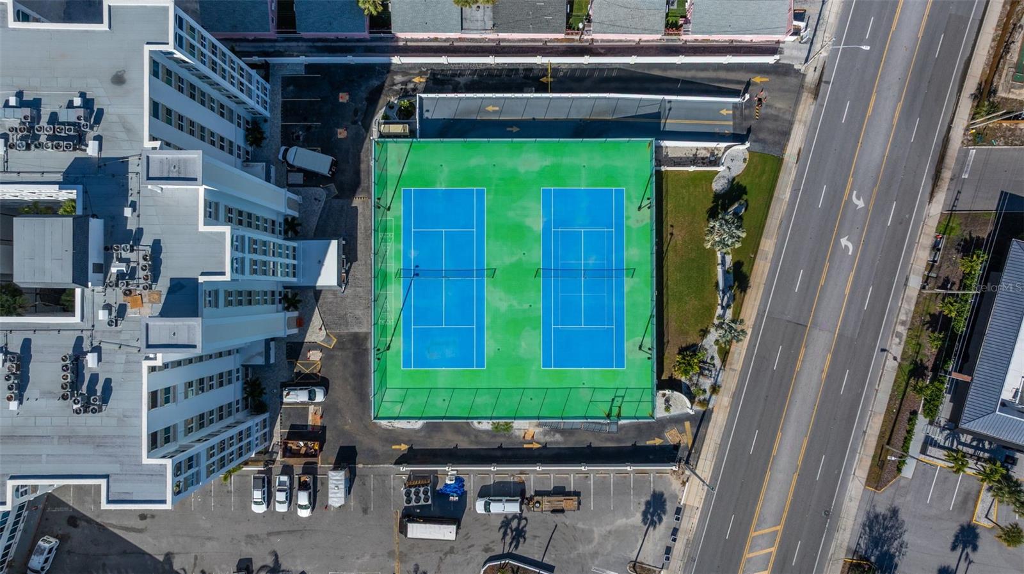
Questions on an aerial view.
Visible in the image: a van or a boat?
van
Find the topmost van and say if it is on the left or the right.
left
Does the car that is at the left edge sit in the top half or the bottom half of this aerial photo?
bottom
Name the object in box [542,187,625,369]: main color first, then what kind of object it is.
blue tennis court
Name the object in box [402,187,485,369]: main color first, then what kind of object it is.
blue tennis court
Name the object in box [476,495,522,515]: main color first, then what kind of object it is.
white vehicle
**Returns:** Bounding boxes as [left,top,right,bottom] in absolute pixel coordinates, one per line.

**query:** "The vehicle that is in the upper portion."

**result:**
[285,145,344,178]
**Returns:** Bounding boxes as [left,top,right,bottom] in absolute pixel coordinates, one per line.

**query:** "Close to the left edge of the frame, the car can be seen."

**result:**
[31,536,60,573]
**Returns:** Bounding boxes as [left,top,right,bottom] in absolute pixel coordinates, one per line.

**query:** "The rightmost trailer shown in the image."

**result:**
[526,493,580,515]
